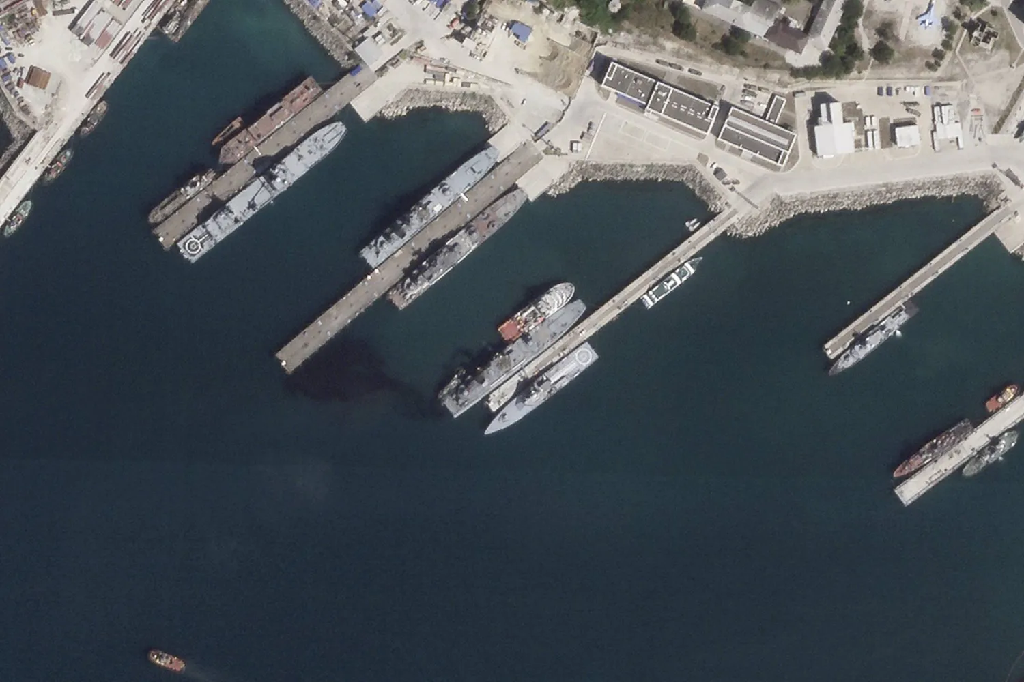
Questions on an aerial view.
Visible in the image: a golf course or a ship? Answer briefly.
ship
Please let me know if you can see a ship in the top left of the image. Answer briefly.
Yes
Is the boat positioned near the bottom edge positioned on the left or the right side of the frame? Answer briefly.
left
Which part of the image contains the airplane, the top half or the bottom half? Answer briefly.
top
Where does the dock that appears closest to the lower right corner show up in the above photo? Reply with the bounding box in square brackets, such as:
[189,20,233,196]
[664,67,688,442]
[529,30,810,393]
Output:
[895,393,1024,506]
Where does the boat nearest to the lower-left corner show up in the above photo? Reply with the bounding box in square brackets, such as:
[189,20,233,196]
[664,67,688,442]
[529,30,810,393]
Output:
[148,651,185,673]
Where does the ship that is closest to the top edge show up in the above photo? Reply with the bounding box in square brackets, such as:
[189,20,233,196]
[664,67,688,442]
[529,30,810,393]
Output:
[157,0,208,40]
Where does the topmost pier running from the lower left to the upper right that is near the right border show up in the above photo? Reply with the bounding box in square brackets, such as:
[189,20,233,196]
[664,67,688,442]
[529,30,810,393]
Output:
[824,205,1017,359]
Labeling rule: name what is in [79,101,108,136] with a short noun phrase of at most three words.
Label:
boat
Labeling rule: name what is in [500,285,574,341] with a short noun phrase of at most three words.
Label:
ship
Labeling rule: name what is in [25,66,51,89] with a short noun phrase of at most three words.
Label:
shed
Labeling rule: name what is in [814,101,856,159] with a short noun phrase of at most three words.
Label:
building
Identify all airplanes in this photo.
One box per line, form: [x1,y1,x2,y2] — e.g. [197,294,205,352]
[918,1,938,30]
